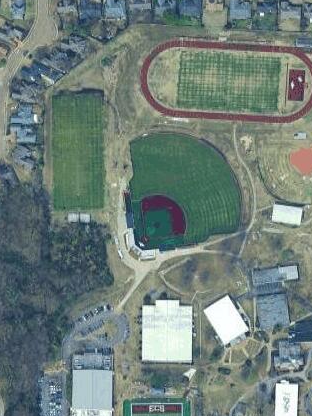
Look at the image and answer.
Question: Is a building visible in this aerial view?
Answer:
Yes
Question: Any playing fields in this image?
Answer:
Yes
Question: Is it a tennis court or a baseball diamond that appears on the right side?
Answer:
baseball diamond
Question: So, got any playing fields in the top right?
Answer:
Yes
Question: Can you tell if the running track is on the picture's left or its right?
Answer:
right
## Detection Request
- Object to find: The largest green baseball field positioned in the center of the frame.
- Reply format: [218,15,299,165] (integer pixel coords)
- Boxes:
[125,132,242,251]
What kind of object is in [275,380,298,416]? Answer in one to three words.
building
